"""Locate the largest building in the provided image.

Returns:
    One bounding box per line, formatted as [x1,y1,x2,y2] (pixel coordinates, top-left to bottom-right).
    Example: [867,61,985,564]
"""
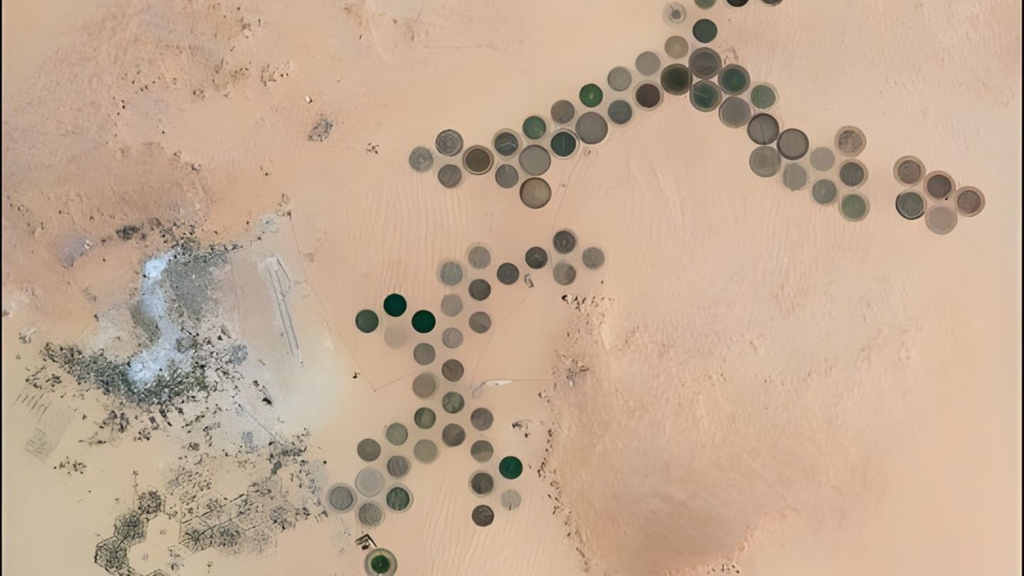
[165,249,231,324]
